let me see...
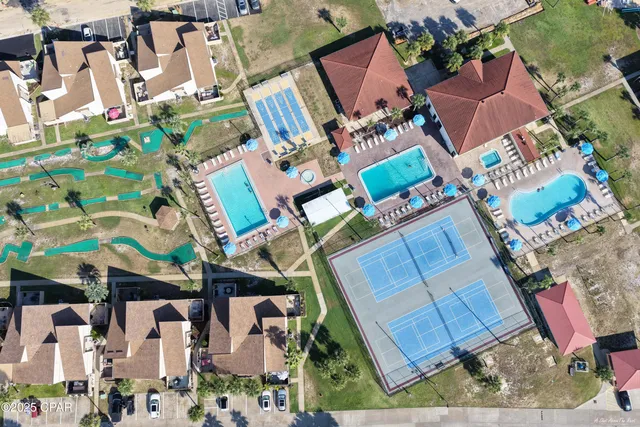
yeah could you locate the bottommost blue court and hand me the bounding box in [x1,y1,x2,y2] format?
[378,278,513,369]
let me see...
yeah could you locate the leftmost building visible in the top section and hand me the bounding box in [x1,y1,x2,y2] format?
[0,62,34,139]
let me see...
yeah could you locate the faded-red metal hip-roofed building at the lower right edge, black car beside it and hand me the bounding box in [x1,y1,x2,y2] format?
[609,348,640,392]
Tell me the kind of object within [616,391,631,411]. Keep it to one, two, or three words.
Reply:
car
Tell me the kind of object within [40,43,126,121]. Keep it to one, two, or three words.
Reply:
house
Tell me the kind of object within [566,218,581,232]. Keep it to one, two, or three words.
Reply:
umbrella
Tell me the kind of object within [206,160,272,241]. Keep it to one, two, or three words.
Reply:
swimming pool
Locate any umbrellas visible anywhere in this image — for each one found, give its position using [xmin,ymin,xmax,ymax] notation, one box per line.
[286,166,299,178]
[595,169,608,182]
[246,139,258,151]
[409,196,423,209]
[471,174,484,186]
[385,129,398,141]
[224,243,236,254]
[509,239,522,251]
[413,114,425,126]
[277,216,289,228]
[566,218,581,232]
[581,143,593,154]
[444,183,456,195]
[488,196,500,208]
[338,153,350,165]
[362,204,375,216]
